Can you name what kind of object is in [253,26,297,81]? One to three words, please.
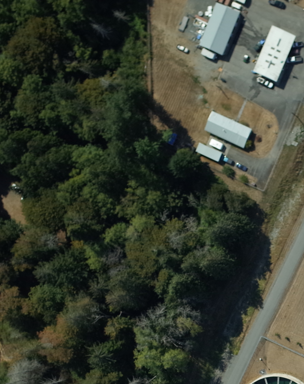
building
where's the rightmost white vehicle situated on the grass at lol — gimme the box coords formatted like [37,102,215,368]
[207,137,224,151]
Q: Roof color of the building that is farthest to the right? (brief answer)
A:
white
